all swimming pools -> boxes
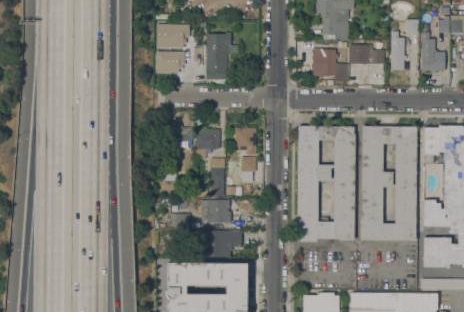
[422,13,433,24]
[428,174,438,192]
